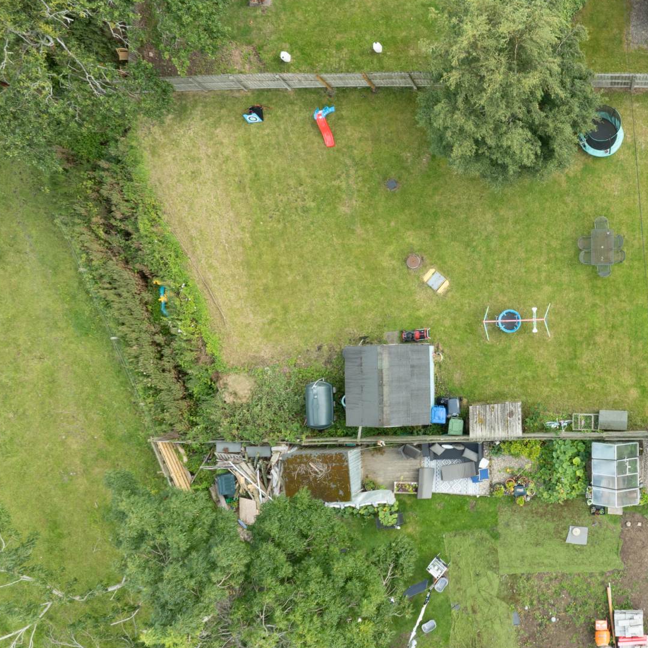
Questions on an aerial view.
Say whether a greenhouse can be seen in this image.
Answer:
Yes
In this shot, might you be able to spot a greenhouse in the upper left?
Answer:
No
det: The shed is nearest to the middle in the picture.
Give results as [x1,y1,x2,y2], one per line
[344,332,433,441]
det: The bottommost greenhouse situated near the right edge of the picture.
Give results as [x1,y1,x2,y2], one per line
[590,441,640,510]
